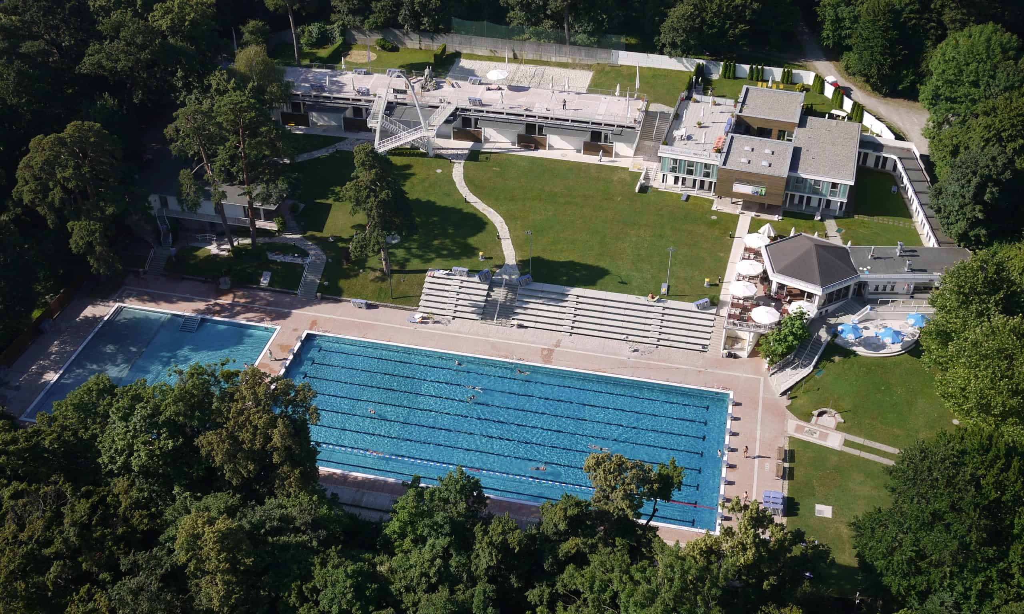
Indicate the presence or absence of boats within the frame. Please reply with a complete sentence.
No, the photo shows no boat.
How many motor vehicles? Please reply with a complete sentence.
My tally gives 1 motor vehicle in this photo.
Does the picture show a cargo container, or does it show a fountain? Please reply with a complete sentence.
Of the two, only a fountain appears.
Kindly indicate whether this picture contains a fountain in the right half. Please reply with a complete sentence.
Yes, looking in the right half, one can make out a fountain.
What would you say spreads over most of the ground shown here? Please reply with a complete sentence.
The largest share of the image is taken up by trees.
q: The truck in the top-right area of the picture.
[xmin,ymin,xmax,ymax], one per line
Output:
[825,68,852,92]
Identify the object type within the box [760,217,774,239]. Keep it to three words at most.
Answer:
umbrella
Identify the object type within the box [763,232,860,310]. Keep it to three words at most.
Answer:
building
